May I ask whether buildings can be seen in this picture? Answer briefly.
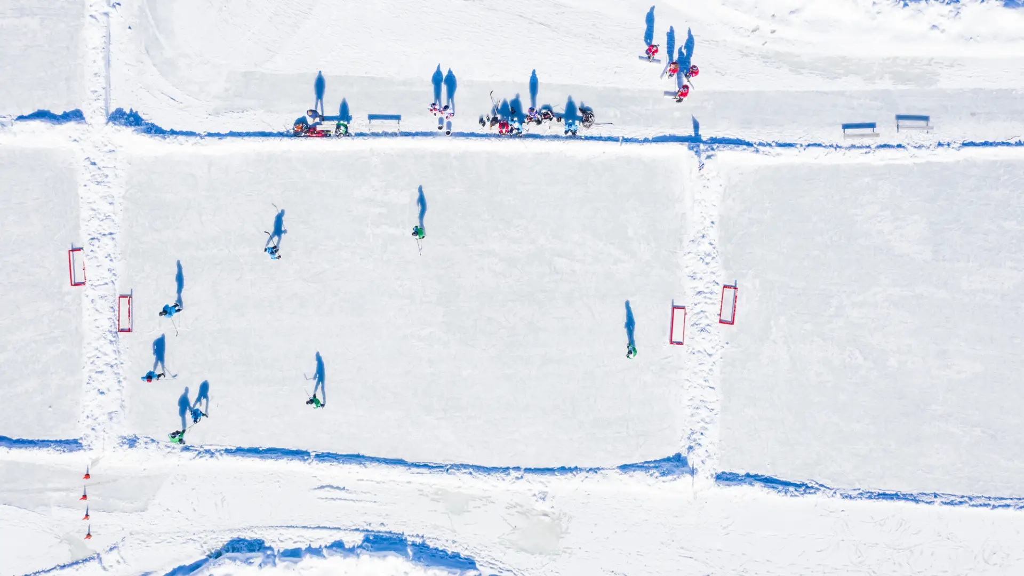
No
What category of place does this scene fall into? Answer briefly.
sports ground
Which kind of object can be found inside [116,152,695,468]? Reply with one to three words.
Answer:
sports court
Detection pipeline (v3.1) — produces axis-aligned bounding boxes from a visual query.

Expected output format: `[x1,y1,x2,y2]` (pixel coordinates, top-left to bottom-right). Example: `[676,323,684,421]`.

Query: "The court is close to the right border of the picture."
[716,159,1024,500]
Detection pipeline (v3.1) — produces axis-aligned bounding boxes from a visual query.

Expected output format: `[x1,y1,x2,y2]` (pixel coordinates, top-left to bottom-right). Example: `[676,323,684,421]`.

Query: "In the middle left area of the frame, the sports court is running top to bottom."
[0,146,85,443]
